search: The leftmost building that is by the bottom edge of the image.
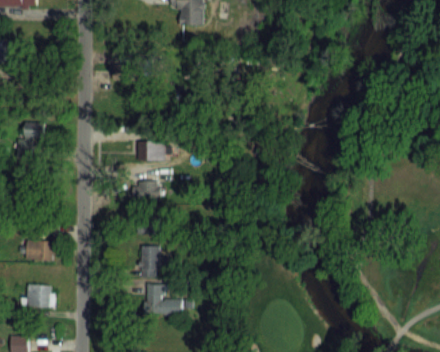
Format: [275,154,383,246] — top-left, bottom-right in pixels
[10,336,32,352]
